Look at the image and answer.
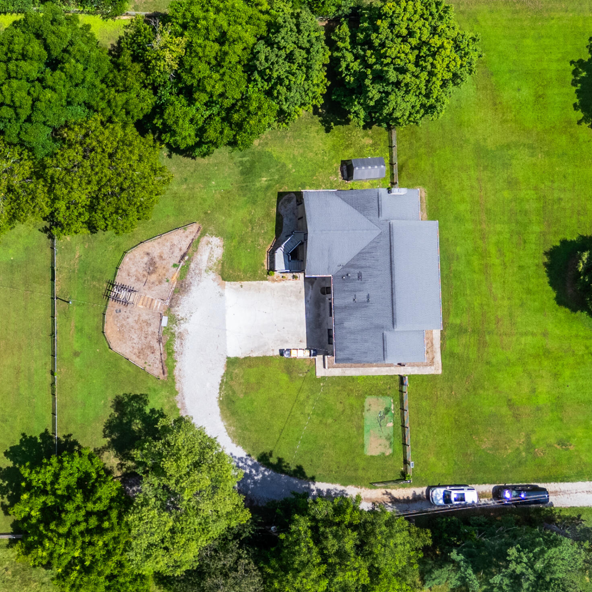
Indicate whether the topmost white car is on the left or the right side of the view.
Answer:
right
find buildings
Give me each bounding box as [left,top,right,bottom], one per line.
[346,157,388,180]
[295,183,440,364]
